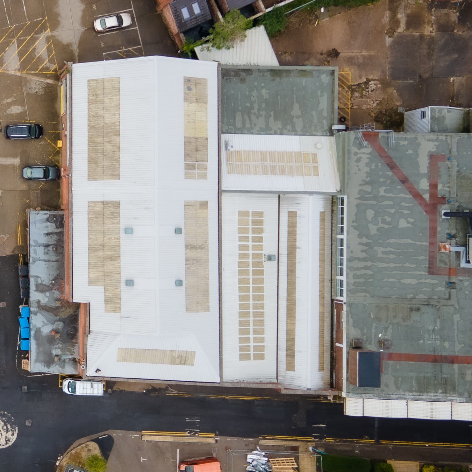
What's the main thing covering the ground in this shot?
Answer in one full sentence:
The largest share of the image is taken up by buildings.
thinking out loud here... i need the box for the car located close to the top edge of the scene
[92,11,132,34]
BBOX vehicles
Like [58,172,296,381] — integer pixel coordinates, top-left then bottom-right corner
[22,164,59,182]
[4,122,43,141]
[92,11,132,34]
[177,456,223,472]
[62,378,105,397]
